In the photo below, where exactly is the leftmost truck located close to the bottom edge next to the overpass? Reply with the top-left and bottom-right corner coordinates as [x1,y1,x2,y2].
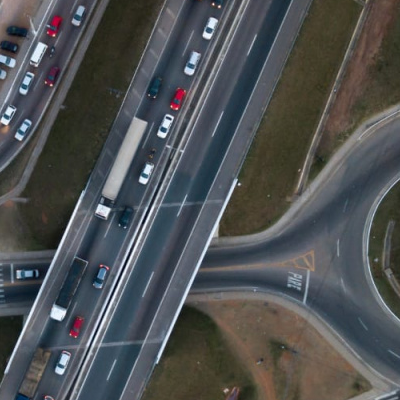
[16,347,50,400]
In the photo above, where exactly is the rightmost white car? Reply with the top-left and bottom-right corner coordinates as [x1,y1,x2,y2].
[202,16,218,40]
